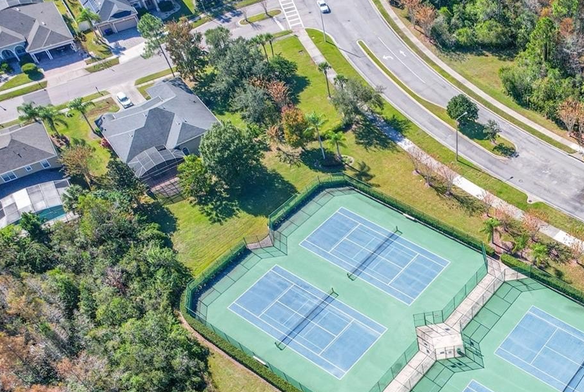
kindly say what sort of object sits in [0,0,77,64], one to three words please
house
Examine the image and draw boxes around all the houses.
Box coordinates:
[0,121,82,235]
[95,77,222,190]
[80,0,174,34]
[0,0,77,64]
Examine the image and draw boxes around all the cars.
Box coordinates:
[317,1,329,13]
[115,90,133,108]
